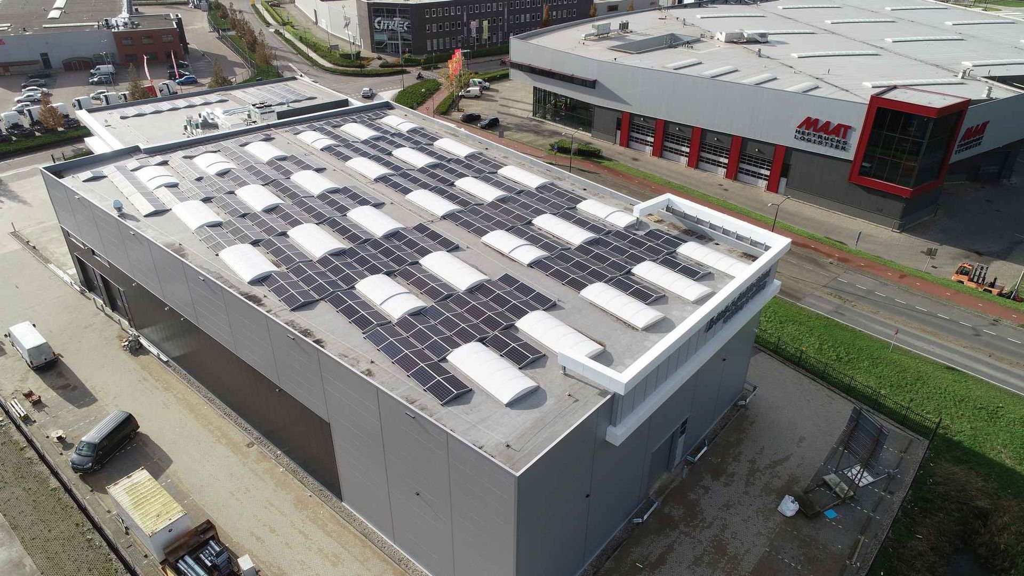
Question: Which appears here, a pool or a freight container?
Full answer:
This aerial view contains a freight container.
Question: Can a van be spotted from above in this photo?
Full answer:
Yes, a van can be made out from above.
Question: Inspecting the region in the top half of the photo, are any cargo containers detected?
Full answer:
No, I can find no cargo container in the top half of the photo.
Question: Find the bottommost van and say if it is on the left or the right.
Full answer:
The bottommost van appears in the left half of the scene.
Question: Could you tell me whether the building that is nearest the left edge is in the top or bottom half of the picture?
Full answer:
The building that is nearest the left edge is in the top half of the image.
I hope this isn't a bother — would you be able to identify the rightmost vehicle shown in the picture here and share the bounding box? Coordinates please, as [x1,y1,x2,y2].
[954,259,1008,295]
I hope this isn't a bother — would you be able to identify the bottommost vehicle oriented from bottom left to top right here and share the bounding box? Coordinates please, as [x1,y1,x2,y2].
[71,406,143,472]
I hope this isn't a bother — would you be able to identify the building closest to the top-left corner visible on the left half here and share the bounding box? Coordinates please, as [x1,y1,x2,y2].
[0,0,121,80]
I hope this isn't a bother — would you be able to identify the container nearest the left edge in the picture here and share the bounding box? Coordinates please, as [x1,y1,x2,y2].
[105,466,193,565]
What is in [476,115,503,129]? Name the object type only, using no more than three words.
car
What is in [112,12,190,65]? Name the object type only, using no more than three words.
building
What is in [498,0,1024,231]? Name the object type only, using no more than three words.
building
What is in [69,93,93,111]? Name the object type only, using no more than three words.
vehicle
